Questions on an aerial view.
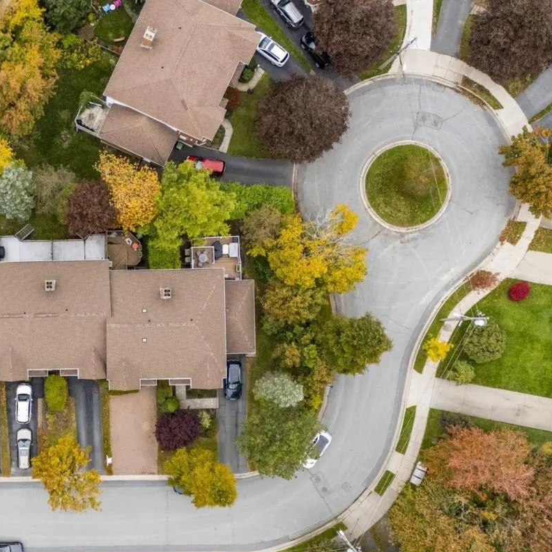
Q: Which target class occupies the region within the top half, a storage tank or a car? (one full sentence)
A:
The one visible within the top half is a car.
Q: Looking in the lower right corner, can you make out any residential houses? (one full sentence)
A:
No, no residential house can be made out in the lower right corner.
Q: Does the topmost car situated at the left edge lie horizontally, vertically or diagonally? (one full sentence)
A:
From this overhead view, the topmost car situated at the left edge appears to run vertically.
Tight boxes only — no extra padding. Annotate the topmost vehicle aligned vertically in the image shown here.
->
[224,360,243,398]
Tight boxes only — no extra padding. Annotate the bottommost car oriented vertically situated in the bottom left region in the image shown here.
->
[14,428,34,468]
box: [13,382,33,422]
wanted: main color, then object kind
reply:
white car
